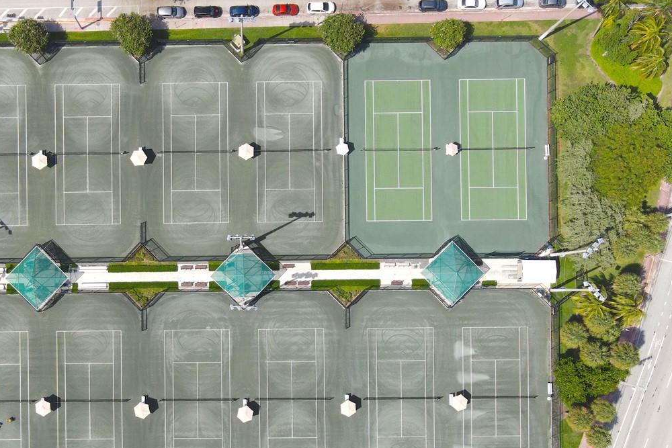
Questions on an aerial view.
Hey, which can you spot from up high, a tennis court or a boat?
tennis court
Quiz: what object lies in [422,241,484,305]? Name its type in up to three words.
building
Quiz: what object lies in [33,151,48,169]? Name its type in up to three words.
umbrella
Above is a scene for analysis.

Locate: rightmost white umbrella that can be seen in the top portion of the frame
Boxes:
[443,142,459,156]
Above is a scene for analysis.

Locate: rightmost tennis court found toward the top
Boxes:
[445,42,548,257]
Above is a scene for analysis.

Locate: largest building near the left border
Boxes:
[5,247,68,311]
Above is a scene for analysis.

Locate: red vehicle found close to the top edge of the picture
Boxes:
[271,2,299,17]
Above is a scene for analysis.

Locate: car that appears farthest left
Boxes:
[158,5,186,20]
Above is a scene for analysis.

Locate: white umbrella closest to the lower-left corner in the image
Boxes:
[35,398,51,415]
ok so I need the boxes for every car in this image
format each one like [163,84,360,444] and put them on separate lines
[231,3,259,19]
[538,0,567,8]
[495,0,524,10]
[158,5,186,20]
[456,0,485,12]
[271,2,299,17]
[195,5,222,20]
[418,0,447,13]
[308,2,334,16]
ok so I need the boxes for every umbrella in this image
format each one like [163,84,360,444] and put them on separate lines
[336,141,349,156]
[133,401,150,419]
[450,392,466,410]
[35,398,51,415]
[130,149,148,166]
[443,142,459,156]
[236,405,253,422]
[340,399,356,415]
[238,143,254,161]
[33,151,48,169]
